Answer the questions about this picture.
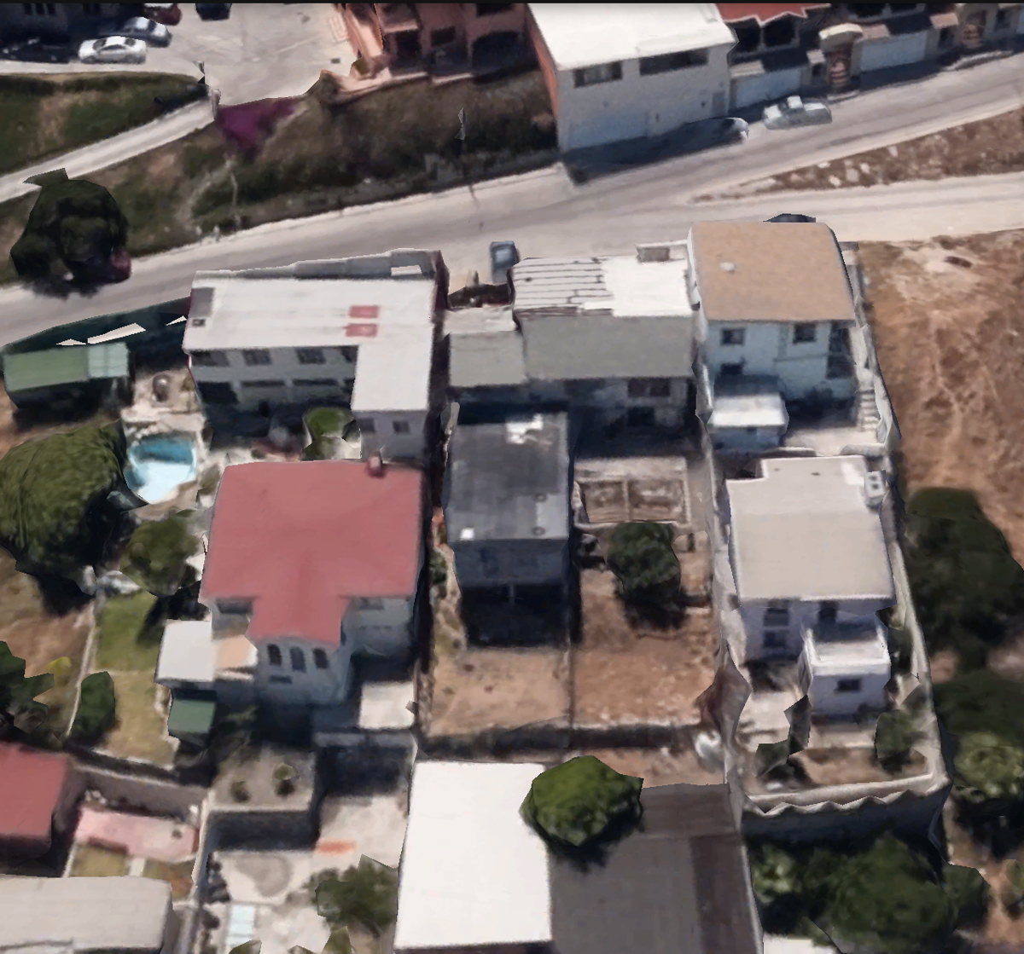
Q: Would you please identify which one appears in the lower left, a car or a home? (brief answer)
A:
home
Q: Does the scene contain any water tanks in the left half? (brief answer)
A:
No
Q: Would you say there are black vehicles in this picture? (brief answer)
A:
Yes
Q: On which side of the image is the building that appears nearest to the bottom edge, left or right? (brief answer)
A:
left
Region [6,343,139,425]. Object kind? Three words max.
shed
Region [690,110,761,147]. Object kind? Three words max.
car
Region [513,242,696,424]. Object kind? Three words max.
house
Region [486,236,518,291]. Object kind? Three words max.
car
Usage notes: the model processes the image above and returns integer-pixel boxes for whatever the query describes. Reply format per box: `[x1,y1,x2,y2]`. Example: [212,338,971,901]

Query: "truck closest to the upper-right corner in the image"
[760,96,837,133]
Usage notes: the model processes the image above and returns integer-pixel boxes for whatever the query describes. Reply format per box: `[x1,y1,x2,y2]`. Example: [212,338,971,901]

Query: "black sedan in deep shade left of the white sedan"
[0,32,67,64]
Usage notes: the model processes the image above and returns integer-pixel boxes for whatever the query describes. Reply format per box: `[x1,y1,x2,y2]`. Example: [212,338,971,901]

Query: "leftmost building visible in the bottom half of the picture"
[0,739,76,861]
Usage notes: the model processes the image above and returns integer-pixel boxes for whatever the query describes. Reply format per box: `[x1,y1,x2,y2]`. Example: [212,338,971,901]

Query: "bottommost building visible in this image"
[0,875,178,954]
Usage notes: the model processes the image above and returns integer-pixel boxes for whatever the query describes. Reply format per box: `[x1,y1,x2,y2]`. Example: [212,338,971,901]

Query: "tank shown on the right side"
[699,732,724,761]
